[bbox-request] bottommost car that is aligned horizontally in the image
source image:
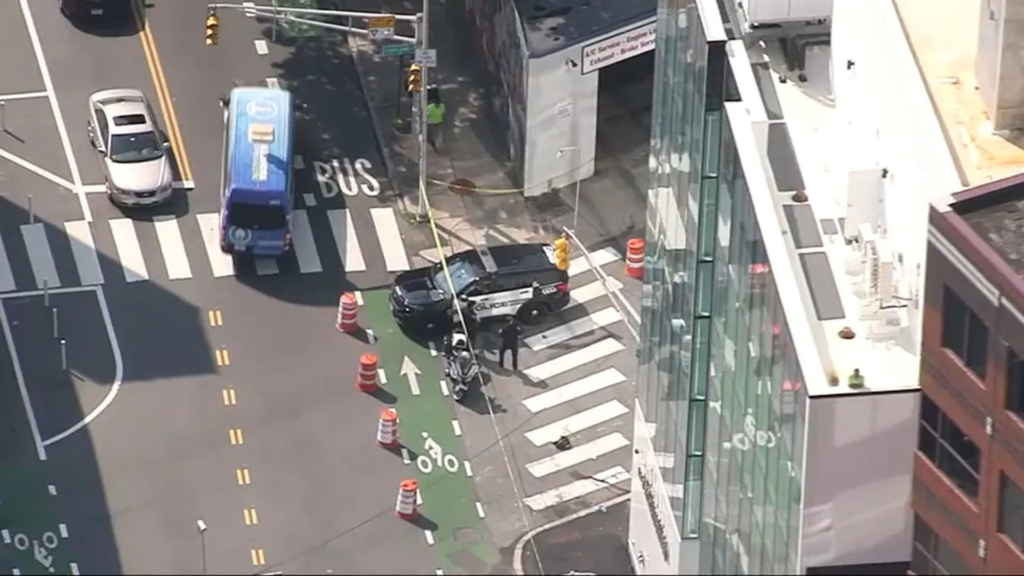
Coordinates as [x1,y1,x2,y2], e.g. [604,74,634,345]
[388,238,568,342]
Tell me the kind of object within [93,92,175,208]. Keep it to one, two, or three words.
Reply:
car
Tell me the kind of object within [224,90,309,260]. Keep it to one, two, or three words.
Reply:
van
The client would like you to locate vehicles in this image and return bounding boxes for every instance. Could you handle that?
[388,238,568,342]
[437,315,482,403]
[62,0,130,22]
[224,90,309,260]
[93,92,175,208]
